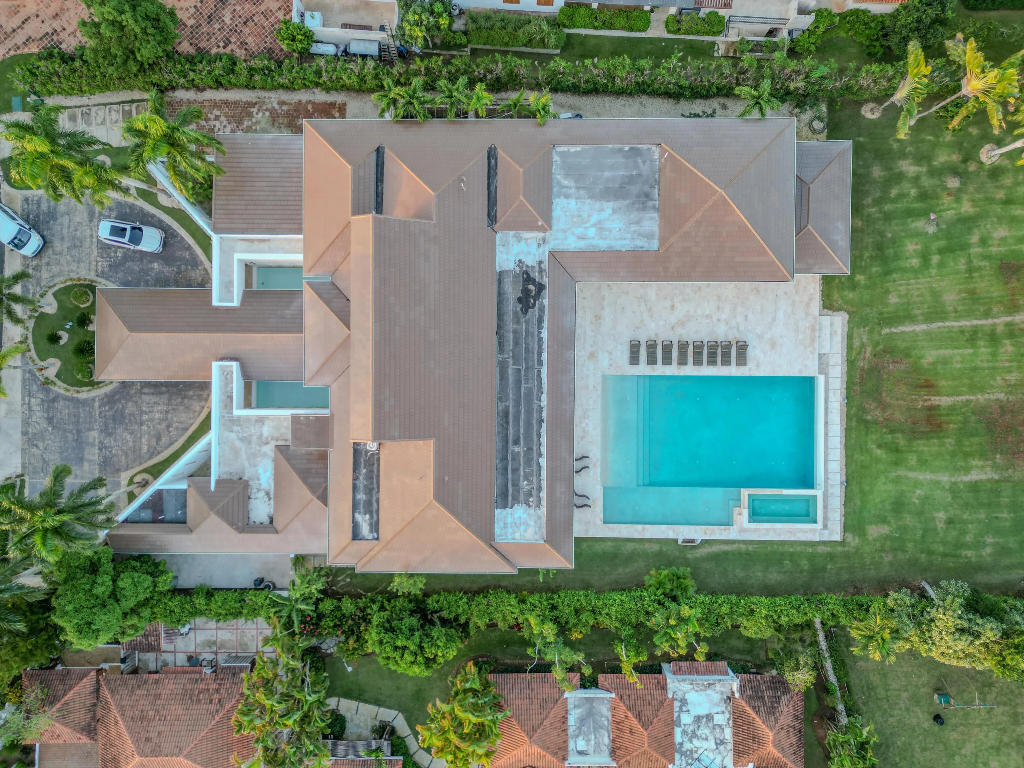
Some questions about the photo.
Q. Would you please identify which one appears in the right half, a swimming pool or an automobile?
swimming pool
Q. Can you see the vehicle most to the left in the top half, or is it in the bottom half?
top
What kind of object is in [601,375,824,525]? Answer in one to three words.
swimming pool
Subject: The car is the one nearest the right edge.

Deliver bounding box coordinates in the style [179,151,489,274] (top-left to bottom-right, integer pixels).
[93,217,168,255]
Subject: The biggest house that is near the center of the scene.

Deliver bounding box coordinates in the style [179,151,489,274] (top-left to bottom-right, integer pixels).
[302,116,797,574]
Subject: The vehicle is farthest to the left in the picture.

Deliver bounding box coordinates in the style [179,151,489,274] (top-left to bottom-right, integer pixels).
[0,199,46,256]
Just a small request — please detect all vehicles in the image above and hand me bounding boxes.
[93,217,168,255]
[0,199,46,256]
